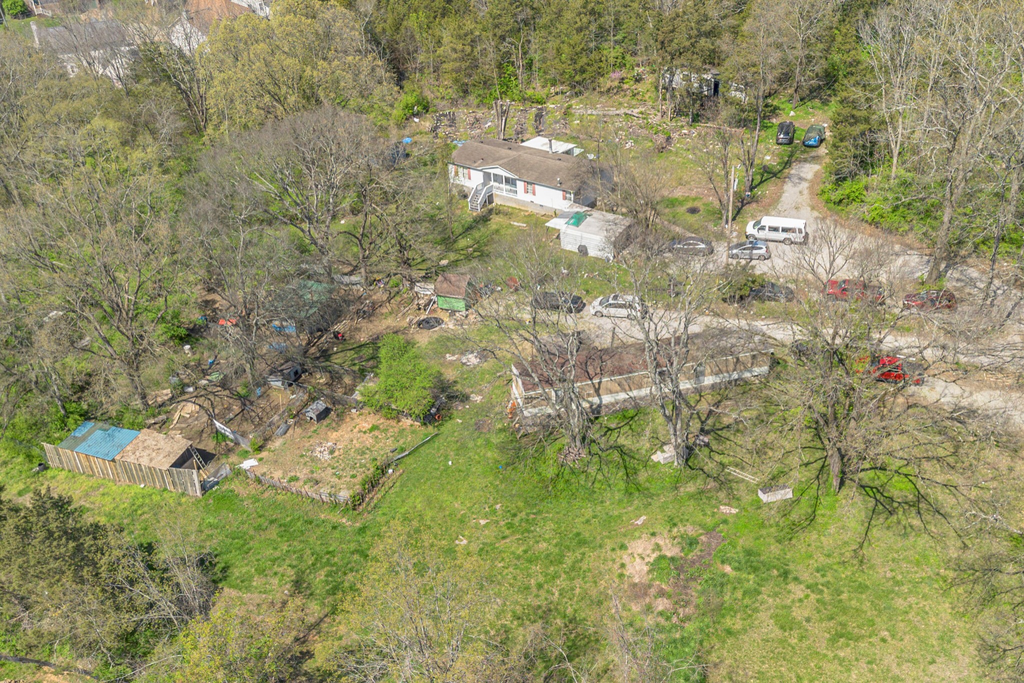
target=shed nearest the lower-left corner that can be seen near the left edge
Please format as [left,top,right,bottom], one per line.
[48,409,197,491]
